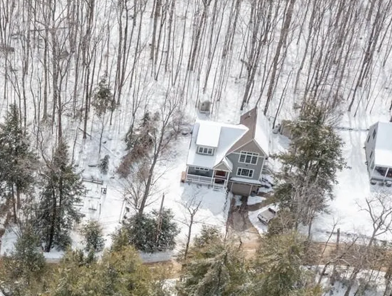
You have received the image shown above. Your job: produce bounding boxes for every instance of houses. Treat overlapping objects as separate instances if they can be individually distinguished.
[359,116,392,181]
[186,104,282,215]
